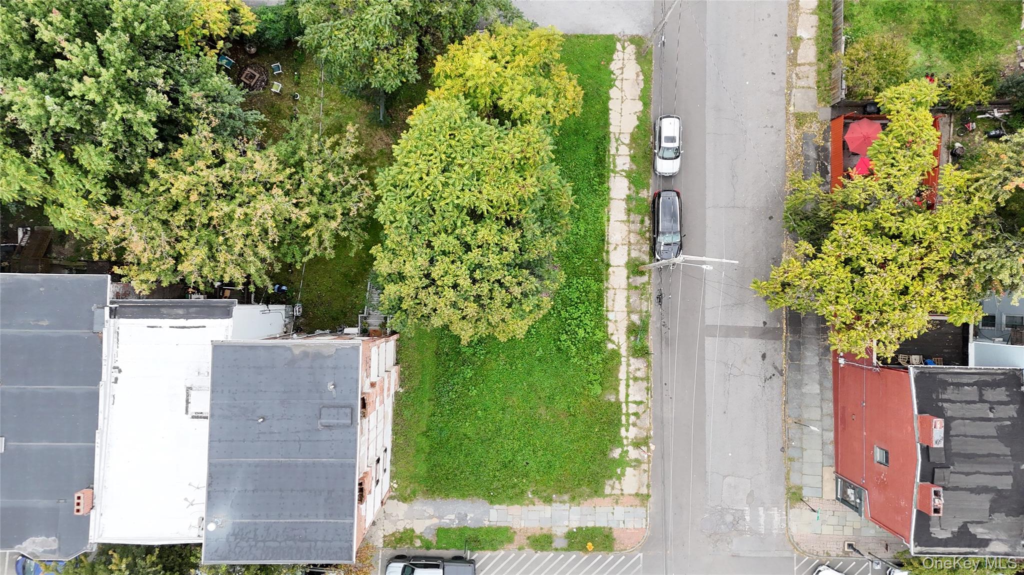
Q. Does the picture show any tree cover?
Yes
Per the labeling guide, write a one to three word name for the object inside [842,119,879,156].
umbrella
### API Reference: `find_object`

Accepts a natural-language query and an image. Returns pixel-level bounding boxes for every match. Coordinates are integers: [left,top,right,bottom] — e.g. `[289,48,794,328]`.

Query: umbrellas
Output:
[845,155,874,181]
[842,119,879,156]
